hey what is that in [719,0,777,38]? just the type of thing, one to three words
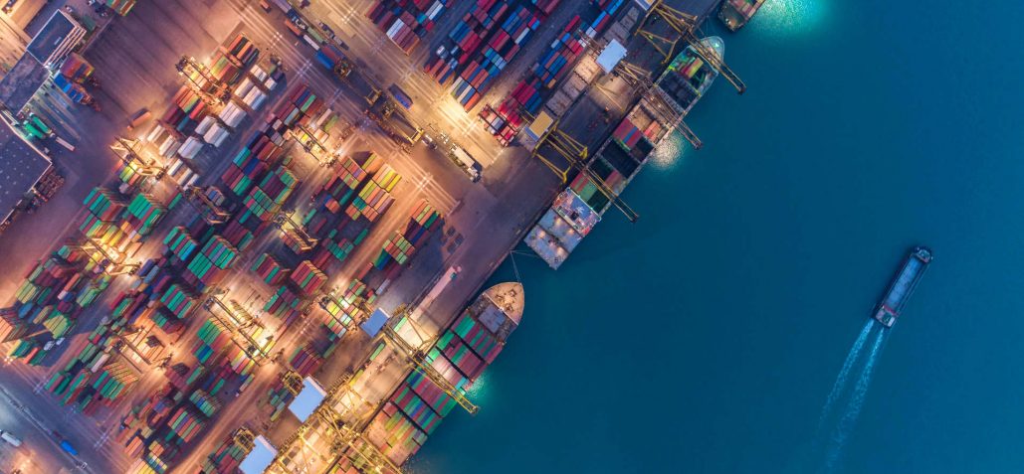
ship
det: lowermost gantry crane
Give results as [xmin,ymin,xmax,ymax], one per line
[227,423,339,474]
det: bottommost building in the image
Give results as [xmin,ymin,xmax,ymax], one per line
[0,113,57,228]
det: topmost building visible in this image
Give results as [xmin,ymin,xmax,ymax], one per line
[24,7,92,72]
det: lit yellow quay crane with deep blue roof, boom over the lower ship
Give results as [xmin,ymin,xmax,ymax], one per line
[354,297,482,417]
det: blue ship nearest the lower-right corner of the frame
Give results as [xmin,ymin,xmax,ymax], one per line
[873,243,933,326]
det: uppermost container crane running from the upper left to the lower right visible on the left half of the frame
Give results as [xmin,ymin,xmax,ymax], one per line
[174,62,233,113]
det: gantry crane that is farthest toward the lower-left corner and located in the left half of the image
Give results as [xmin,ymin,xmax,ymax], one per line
[113,332,165,373]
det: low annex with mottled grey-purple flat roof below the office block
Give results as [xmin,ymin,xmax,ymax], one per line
[0,50,55,117]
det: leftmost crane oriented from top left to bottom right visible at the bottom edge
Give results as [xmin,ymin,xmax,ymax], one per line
[277,363,404,474]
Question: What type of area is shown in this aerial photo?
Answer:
port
